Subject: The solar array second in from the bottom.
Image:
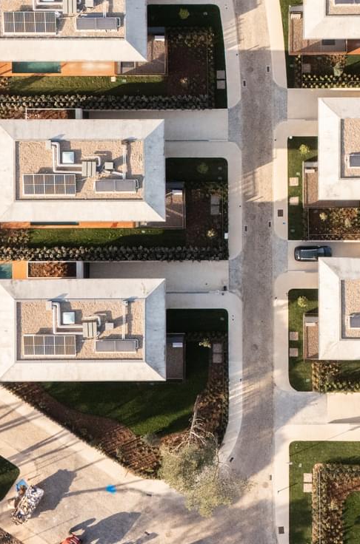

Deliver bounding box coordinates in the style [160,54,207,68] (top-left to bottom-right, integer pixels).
[22,174,75,198]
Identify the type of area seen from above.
residential area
